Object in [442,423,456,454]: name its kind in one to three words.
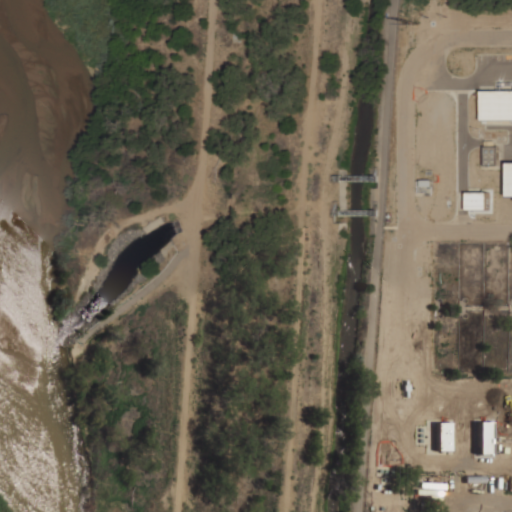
building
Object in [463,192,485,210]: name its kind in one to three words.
building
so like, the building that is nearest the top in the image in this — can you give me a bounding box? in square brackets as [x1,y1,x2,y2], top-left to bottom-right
[478,91,512,120]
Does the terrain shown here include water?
Yes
